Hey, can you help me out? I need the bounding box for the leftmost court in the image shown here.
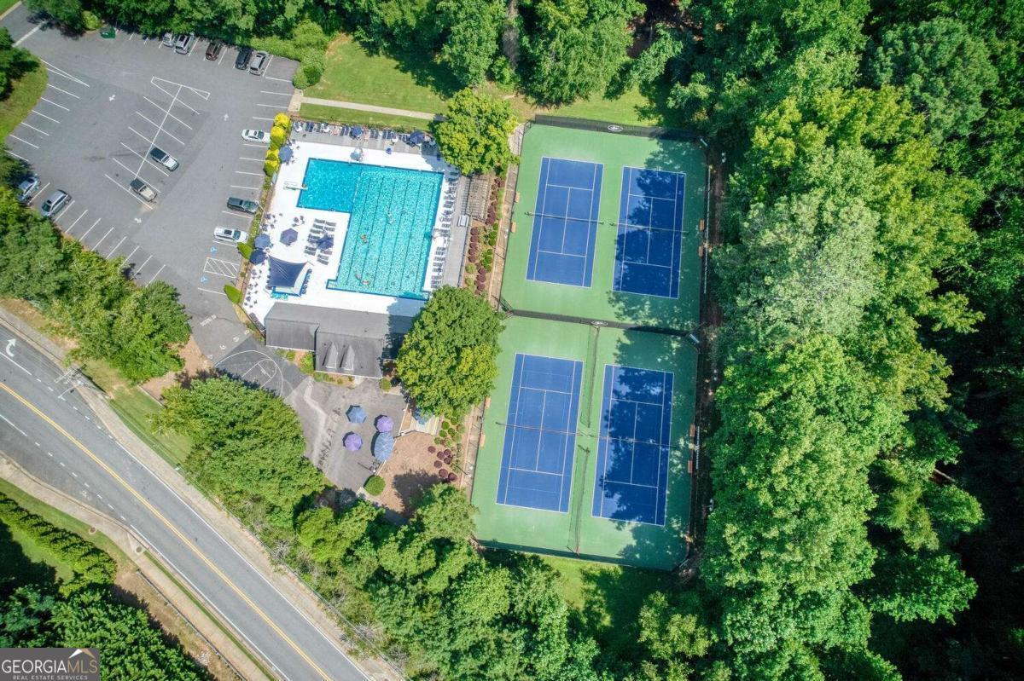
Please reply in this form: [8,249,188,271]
[208,339,305,426]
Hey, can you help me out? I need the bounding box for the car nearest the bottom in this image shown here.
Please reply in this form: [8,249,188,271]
[216,227,246,243]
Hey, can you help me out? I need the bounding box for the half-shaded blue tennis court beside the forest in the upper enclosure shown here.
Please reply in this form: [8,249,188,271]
[599,135,707,331]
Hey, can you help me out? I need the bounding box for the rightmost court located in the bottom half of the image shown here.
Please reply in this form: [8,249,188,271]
[576,324,697,569]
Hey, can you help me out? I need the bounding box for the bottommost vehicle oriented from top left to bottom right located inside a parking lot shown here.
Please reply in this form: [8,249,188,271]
[129,177,157,199]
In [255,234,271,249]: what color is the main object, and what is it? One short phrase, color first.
blue umbrella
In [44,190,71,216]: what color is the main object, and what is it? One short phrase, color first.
gray car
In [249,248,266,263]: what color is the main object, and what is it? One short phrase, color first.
blue umbrella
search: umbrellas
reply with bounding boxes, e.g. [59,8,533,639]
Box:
[255,234,271,249]
[376,416,393,433]
[344,434,362,451]
[351,127,362,141]
[410,131,425,146]
[374,433,393,461]
[347,406,367,424]
[280,228,298,245]
[278,147,294,162]
[249,248,266,263]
